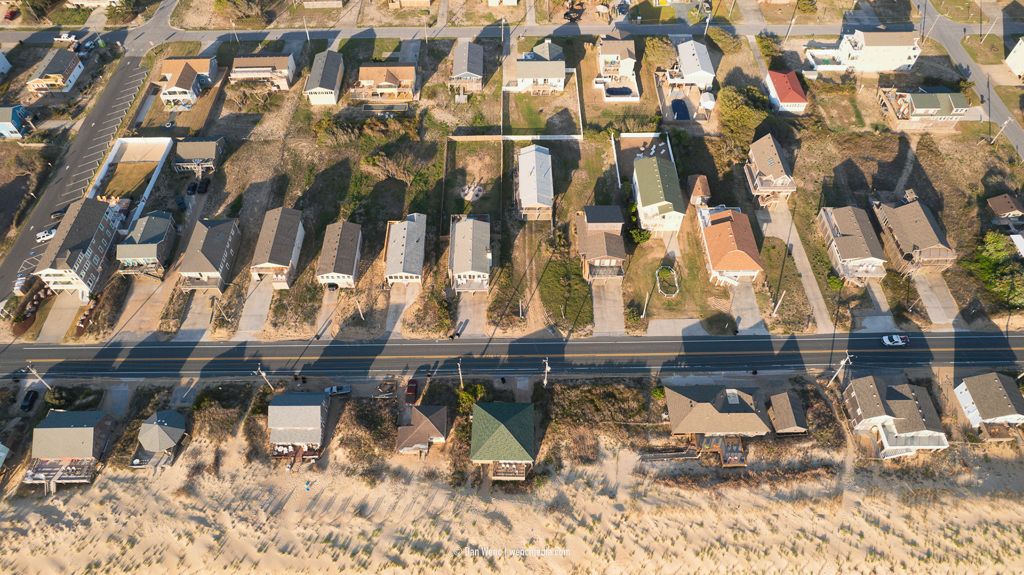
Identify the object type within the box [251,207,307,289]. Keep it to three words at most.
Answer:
house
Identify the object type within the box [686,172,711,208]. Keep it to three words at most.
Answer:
shed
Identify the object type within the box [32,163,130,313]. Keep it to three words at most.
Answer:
building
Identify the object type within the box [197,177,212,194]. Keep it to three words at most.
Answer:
car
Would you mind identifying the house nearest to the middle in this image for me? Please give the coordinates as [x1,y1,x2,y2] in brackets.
[447,217,491,303]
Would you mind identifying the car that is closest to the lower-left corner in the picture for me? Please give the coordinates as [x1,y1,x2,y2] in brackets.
[18,388,40,412]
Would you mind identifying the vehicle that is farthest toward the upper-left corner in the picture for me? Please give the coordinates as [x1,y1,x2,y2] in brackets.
[3,10,17,22]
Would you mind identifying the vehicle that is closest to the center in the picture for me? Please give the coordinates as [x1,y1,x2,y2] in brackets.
[405,378,419,406]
